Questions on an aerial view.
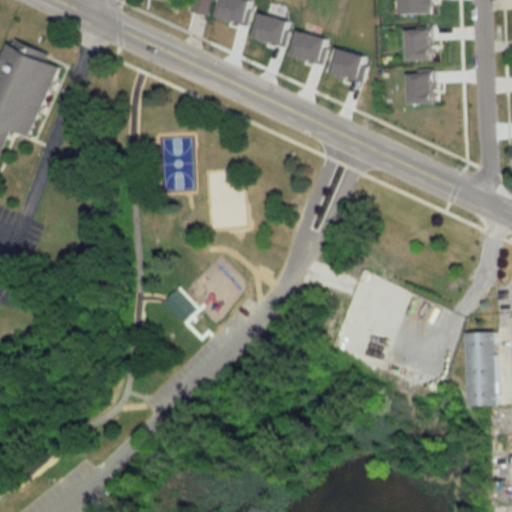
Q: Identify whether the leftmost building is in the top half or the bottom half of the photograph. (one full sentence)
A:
You can find the leftmost building in the top half.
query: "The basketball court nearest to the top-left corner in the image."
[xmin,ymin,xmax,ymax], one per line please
[158,132,200,196]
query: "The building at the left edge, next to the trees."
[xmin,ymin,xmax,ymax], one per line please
[0,41,58,152]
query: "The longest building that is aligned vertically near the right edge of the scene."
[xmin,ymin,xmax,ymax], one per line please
[466,332,499,407]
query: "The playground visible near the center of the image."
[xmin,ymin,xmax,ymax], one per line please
[188,256,248,326]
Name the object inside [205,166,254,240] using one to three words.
sports court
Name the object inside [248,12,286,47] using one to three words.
house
